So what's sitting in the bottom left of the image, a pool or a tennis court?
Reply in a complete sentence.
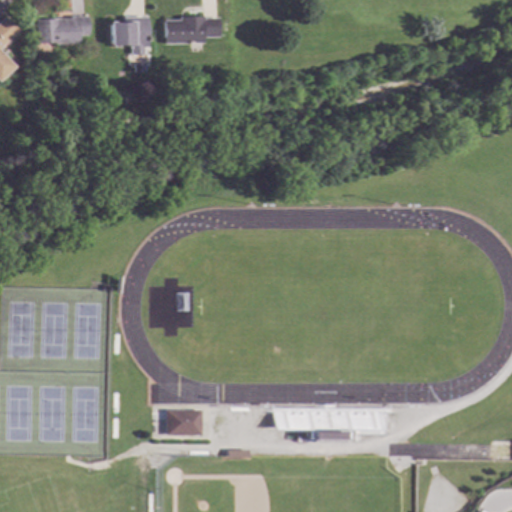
Visible in the bottom left of the image is a tennis court.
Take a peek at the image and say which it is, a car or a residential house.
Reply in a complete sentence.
Of the two, only a residential house appears.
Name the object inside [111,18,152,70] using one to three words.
house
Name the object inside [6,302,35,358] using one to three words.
tennis court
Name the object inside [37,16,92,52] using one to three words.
house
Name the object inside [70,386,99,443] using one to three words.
tennis court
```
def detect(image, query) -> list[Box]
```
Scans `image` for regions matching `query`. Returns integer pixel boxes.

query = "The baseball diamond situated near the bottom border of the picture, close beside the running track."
[156,458,400,512]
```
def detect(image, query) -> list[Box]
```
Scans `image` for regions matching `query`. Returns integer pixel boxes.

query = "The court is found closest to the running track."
[72,302,102,360]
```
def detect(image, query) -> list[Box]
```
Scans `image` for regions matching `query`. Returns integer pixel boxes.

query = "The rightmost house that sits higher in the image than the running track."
[154,16,224,51]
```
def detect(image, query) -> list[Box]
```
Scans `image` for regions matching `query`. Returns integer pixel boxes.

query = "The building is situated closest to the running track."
[166,410,203,435]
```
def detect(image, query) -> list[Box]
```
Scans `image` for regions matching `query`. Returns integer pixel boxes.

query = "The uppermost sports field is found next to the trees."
[141,228,505,384]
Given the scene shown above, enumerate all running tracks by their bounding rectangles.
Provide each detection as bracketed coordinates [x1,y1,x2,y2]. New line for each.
[120,206,512,406]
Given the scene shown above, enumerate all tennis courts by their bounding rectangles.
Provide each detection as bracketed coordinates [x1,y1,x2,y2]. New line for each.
[72,302,102,360]
[70,386,99,443]
[4,386,32,442]
[37,386,66,443]
[39,302,68,359]
[6,302,35,358]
